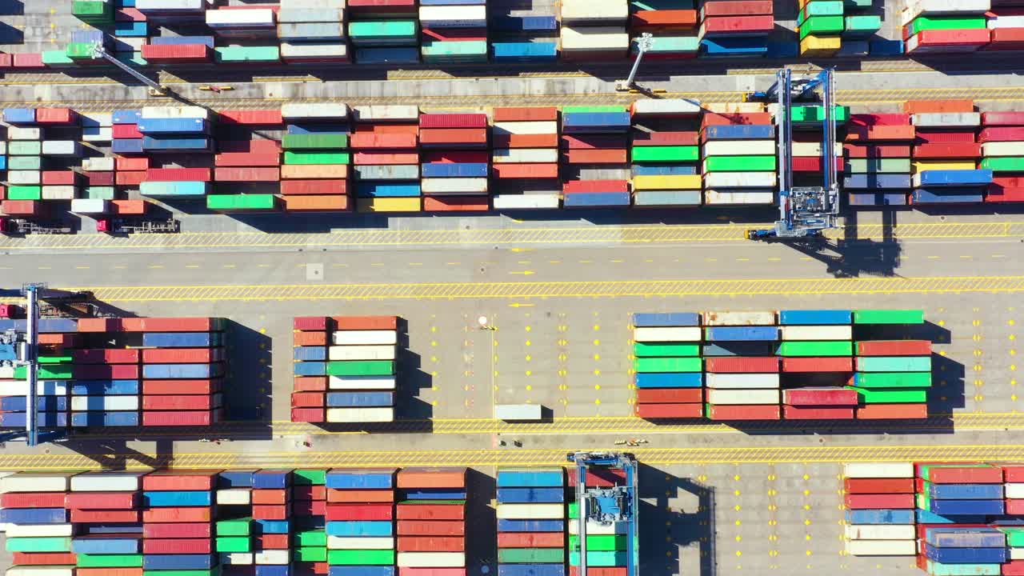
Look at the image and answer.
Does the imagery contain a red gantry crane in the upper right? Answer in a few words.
No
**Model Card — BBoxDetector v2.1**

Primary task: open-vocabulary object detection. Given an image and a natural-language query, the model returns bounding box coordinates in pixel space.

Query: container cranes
[0,283,94,447]
[743,67,840,241]
[560,450,640,576]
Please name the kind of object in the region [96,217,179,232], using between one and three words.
vehicle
